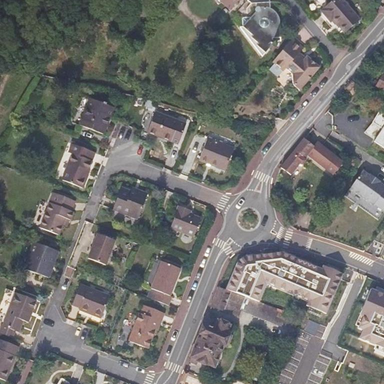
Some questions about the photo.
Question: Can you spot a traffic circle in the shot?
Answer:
Yes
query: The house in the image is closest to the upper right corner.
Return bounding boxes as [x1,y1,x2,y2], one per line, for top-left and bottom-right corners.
[322,0,362,34]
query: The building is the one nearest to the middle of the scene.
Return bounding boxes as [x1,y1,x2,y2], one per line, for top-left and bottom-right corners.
[170,203,204,236]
